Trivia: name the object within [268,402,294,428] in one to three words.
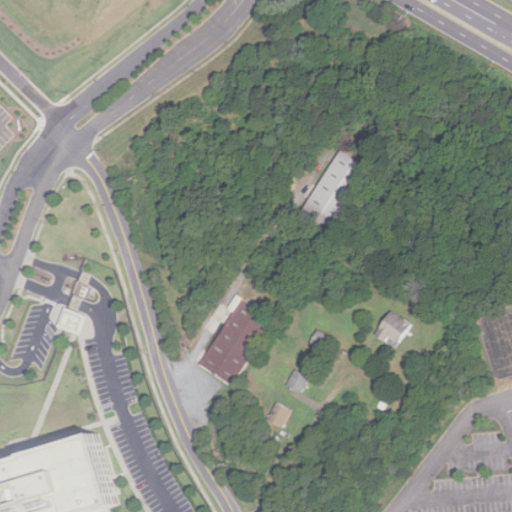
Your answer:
house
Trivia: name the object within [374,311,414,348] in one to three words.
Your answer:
house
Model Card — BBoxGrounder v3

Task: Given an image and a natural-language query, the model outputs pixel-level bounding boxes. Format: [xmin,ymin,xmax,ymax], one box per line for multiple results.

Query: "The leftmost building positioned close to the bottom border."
[0,431,120,512]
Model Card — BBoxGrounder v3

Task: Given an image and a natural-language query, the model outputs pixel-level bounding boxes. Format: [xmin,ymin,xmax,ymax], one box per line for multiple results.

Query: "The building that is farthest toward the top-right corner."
[304,151,360,223]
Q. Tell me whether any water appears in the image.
No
